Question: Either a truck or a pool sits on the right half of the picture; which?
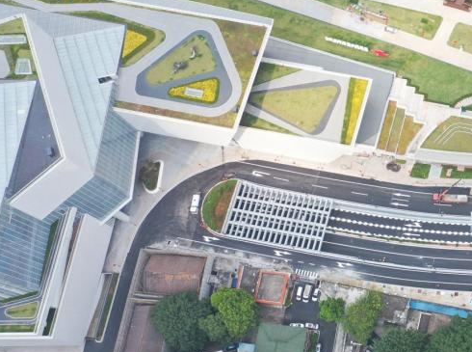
truck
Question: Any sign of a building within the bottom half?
Yes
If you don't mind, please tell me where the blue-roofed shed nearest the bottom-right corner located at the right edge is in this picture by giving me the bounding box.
[410,300,472,320]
